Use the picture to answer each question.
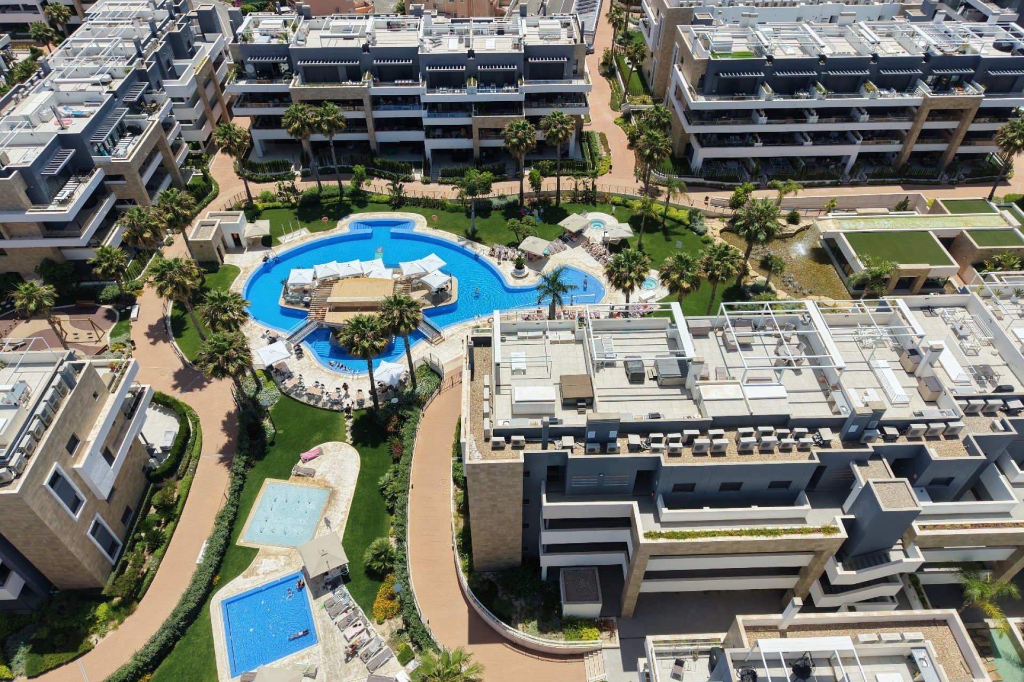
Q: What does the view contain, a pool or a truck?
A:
pool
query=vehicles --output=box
[585,40,602,52]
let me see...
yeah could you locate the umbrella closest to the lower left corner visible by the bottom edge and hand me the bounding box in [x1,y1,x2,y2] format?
[254,649,305,682]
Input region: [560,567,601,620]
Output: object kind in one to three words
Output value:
building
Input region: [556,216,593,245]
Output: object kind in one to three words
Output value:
umbrella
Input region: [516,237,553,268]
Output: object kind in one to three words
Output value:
umbrella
